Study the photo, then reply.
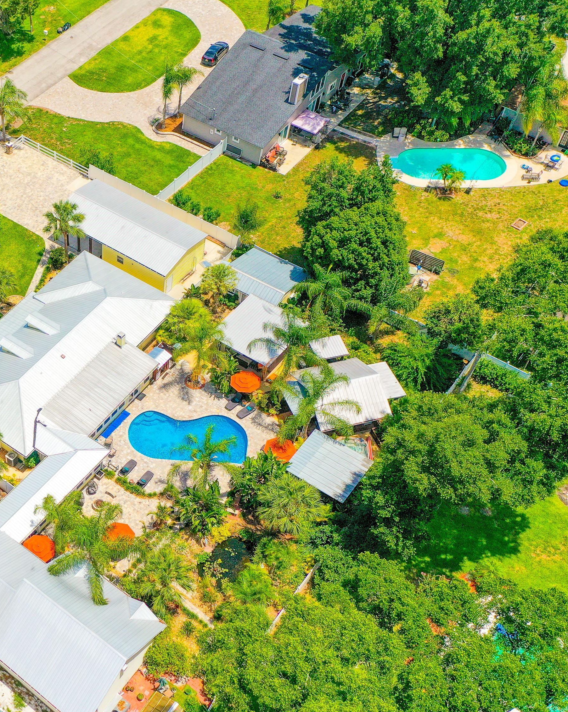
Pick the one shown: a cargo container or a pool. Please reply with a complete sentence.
Visible in the photo is a pool.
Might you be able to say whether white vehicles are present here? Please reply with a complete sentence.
No, the scene contains no white vehicle.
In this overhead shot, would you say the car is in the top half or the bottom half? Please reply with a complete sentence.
You can find the car in the top half.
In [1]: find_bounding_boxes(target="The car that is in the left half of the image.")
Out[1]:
[203,41,229,66]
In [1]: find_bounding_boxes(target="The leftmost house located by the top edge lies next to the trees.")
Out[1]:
[179,11,364,165]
